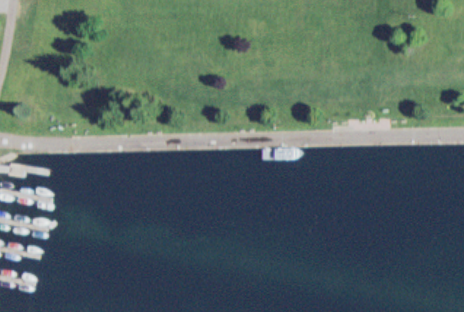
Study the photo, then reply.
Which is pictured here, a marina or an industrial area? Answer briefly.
marina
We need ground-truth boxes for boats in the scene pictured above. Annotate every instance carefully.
[12,226,30,236]
[4,252,22,262]
[0,212,11,222]
[14,216,30,226]
[0,224,10,232]
[20,188,34,198]
[26,246,44,258]
[0,270,17,280]
[35,186,54,198]
[18,283,36,293]
[32,230,48,240]
[32,218,52,230]
[16,195,34,206]
[0,182,14,190]
[20,272,38,286]
[36,198,56,210]
[7,242,24,252]
[262,146,303,161]
[0,192,14,202]
[48,222,59,230]
[0,280,16,290]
